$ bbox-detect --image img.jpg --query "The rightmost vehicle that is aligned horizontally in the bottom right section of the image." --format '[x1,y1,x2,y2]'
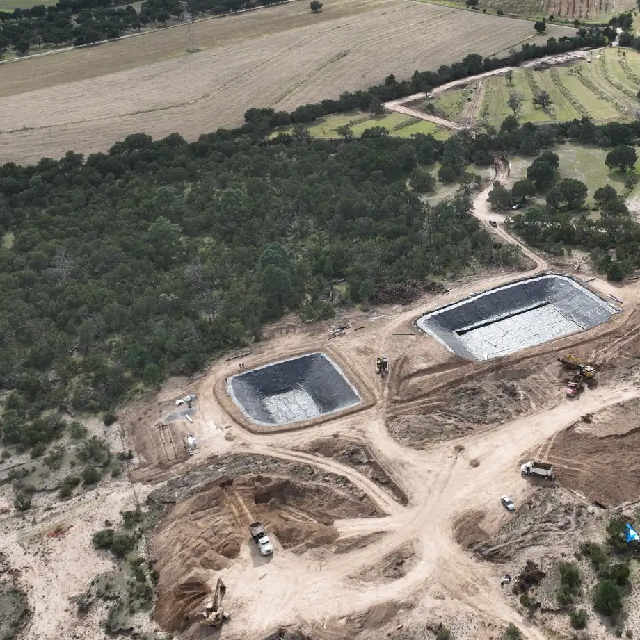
[518,461,555,480]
